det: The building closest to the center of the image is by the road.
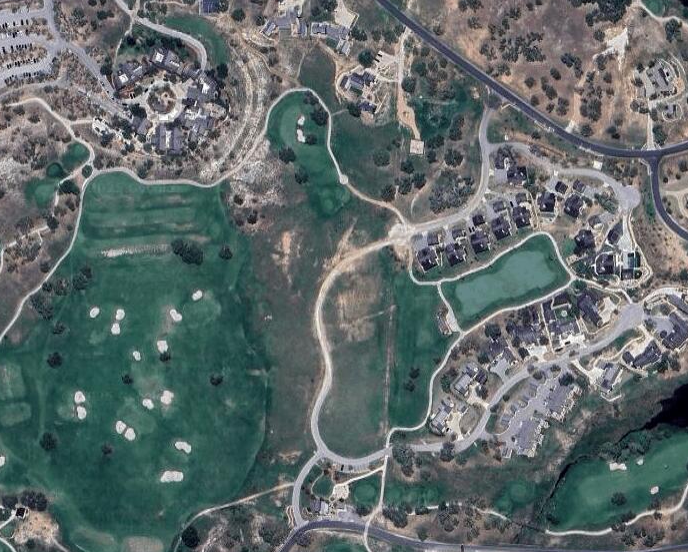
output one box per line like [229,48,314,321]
[417,233,439,273]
